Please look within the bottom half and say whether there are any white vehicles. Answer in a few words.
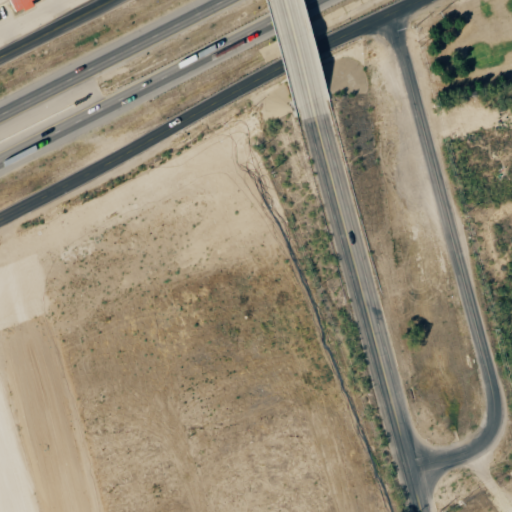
No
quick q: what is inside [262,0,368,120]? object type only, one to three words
bridge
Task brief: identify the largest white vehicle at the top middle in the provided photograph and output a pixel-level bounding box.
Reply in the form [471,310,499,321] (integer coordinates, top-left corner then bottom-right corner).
[178,39,228,69]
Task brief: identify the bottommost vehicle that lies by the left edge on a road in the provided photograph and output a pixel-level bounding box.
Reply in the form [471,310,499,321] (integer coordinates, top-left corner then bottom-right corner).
[3,138,51,166]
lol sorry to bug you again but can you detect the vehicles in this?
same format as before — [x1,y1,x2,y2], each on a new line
[142,80,152,88]
[42,128,54,136]
[75,64,86,72]
[168,118,182,127]
[214,30,262,58]
[88,104,102,114]
[3,138,51,166]
[178,39,228,69]
[122,94,137,104]
[0,6,7,18]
